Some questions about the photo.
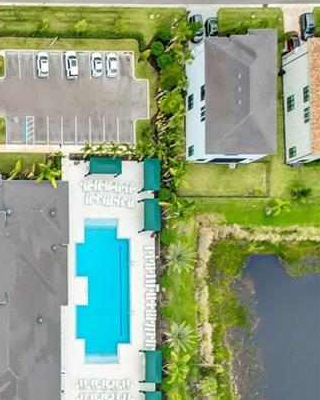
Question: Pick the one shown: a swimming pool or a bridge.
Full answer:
The image shows a swimming pool.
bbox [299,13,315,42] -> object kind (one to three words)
car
